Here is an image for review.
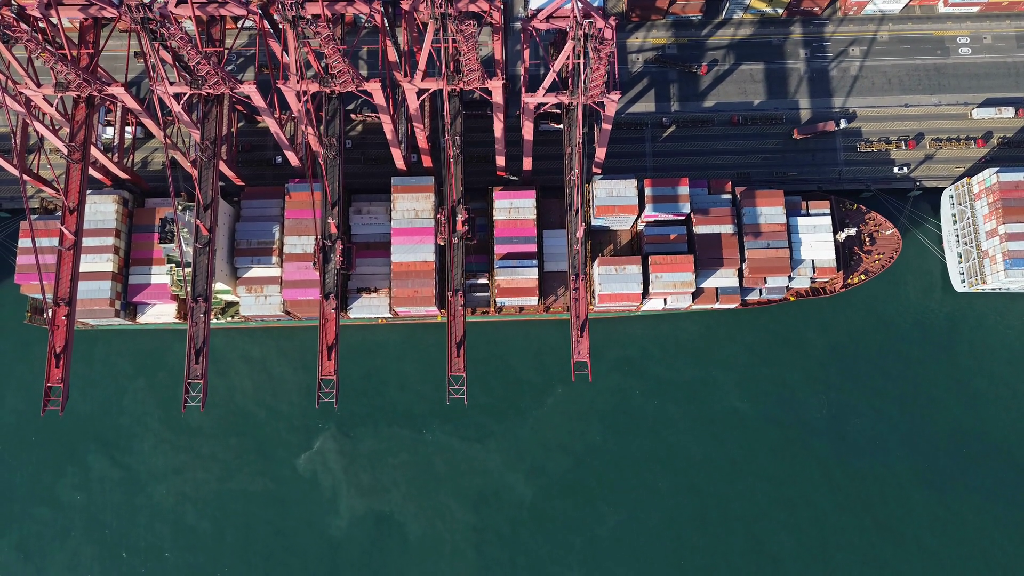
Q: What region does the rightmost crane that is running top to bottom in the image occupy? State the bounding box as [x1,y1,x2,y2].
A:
[517,0,623,381]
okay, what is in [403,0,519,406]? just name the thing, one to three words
container crane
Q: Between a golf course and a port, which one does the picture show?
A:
port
